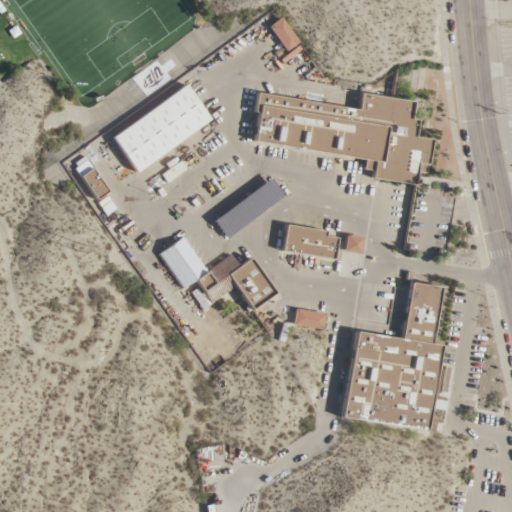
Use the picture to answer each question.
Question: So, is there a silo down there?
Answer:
No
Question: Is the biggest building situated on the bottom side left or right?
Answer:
right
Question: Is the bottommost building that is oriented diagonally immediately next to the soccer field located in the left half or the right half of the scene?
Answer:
left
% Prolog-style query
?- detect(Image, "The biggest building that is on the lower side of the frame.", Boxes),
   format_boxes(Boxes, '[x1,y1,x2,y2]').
[342,271,445,428]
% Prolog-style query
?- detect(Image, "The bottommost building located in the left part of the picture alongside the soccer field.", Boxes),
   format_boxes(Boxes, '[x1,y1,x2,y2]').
[112,85,213,172]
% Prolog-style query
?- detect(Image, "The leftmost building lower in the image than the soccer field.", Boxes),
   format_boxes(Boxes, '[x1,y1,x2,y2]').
[82,170,110,199]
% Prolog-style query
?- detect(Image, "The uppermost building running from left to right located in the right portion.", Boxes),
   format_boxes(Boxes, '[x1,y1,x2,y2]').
[255,92,436,184]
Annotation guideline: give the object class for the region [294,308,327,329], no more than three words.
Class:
house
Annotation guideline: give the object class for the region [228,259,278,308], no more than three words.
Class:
building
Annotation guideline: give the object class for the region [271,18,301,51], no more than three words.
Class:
house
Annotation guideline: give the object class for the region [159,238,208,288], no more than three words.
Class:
shed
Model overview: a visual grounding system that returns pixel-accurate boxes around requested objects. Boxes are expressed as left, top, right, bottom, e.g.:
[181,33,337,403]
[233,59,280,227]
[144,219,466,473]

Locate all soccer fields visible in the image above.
[6,0,196,108]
